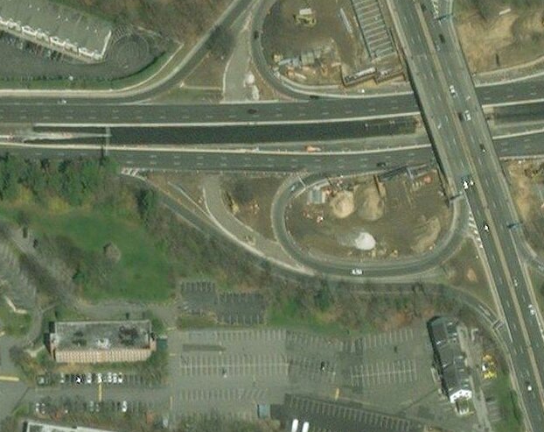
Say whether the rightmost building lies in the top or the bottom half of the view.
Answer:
bottom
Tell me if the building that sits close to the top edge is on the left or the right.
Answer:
left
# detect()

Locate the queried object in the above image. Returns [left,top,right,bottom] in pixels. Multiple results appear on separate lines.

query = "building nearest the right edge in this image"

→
[427,318,473,416]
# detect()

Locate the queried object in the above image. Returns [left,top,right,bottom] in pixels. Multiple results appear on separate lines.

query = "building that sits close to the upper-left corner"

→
[0,0,115,67]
